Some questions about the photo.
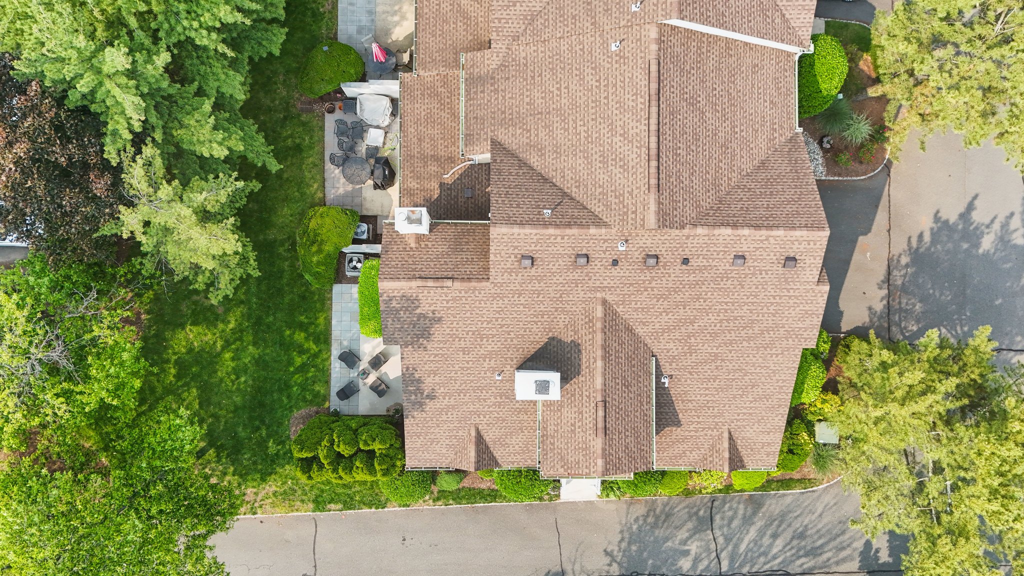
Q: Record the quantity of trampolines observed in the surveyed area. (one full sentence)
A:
There are no trampolines in the image.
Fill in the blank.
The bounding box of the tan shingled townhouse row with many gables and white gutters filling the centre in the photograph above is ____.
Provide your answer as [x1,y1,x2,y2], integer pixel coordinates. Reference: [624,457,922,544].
[379,0,831,481]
